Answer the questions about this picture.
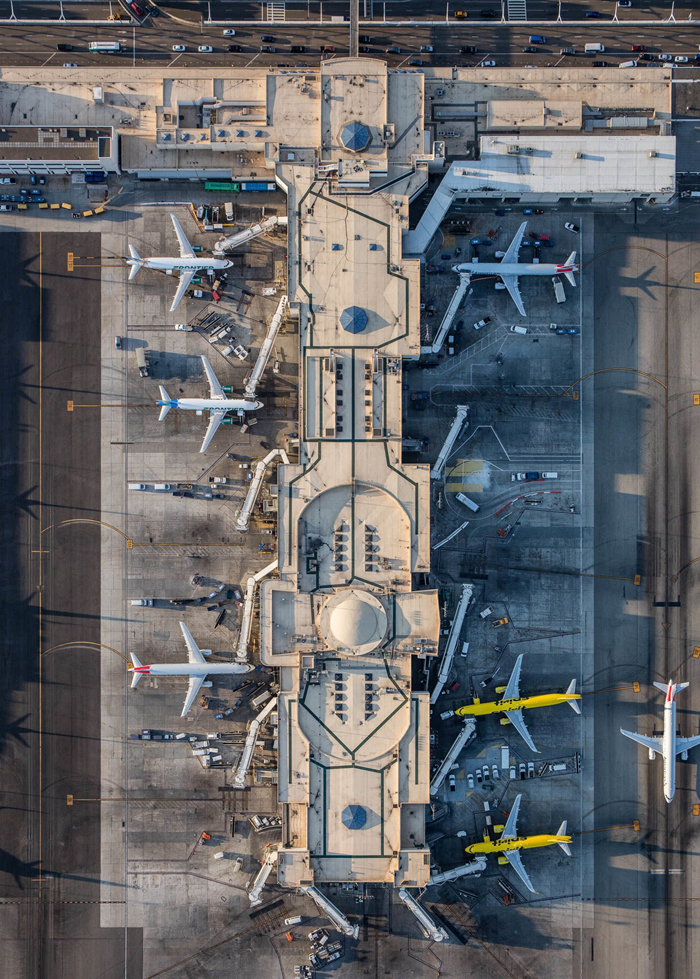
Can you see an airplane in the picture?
Yes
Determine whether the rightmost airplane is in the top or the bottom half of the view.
bottom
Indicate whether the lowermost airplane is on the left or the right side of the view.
right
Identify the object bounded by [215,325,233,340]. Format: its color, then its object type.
white vehicle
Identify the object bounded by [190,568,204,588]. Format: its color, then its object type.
gray vehicle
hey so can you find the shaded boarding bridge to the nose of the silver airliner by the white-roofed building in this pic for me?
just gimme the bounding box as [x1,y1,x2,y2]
[420,270,474,356]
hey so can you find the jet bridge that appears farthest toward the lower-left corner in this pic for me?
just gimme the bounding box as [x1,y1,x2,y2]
[249,847,277,906]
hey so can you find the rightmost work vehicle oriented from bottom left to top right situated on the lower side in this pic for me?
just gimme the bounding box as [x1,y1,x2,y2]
[536,760,551,778]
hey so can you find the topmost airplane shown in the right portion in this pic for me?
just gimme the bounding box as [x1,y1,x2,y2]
[451,220,580,317]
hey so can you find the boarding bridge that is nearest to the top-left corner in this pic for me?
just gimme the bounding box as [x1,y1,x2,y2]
[210,214,288,261]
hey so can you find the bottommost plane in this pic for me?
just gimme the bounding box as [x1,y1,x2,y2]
[465,794,575,898]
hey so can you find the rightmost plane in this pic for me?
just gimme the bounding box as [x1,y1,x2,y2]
[621,680,700,802]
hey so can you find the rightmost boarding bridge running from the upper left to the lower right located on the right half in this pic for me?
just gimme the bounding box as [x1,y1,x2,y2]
[396,887,449,943]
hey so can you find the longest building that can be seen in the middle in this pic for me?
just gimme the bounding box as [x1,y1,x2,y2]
[261,163,441,887]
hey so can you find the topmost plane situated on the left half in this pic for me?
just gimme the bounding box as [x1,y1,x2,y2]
[125,209,234,315]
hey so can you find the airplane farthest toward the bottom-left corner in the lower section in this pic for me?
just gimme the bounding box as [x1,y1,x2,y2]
[127,620,255,718]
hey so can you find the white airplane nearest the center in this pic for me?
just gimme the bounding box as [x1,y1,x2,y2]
[157,352,264,455]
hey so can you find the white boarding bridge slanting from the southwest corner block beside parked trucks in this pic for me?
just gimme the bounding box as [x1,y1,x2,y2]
[304,883,361,934]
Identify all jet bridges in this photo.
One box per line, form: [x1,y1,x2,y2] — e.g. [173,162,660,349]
[425,848,491,889]
[235,558,278,664]
[210,214,288,261]
[396,887,449,943]
[420,270,474,356]
[234,447,293,533]
[242,293,288,400]
[430,580,474,704]
[304,883,361,934]
[430,402,468,480]
[235,695,278,790]
[249,847,277,906]
[430,713,479,795]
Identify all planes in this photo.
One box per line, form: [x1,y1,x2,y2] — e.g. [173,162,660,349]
[157,352,264,455]
[621,680,700,802]
[451,220,580,317]
[455,651,583,755]
[127,620,255,718]
[465,794,575,898]
[125,209,234,315]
